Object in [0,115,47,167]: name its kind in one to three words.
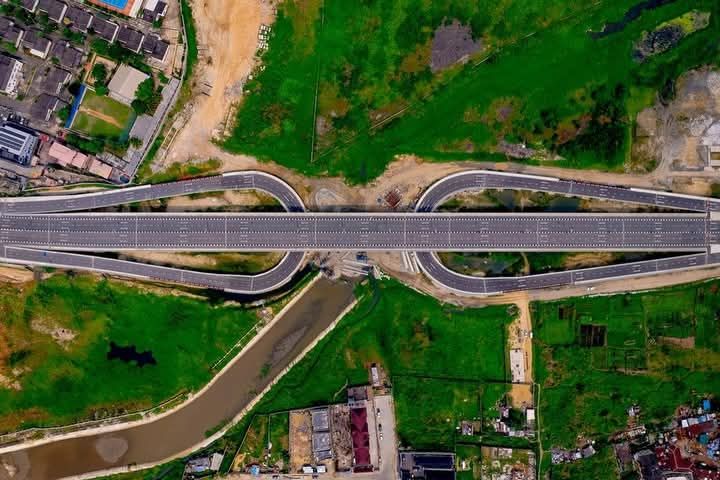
building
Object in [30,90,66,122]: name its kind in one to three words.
house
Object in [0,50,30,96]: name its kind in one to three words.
building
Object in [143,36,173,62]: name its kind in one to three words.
house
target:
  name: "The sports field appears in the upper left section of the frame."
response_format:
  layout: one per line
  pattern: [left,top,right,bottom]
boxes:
[72,91,132,142]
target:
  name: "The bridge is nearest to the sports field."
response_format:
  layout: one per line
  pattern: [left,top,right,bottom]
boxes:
[0,210,720,252]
